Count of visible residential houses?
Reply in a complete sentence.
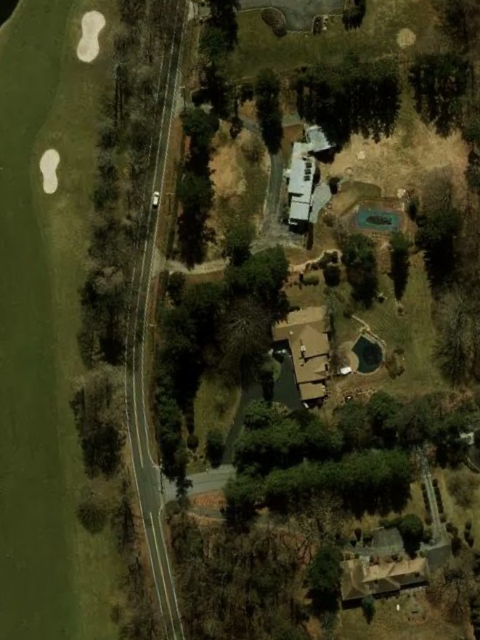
In total, there are 3 residential houses in the scene.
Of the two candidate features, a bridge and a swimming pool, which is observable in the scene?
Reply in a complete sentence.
It is a swimming pool that can be seen here.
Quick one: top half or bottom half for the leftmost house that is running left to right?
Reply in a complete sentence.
The leftmost house that is running left to right sits in the bottom half of the picture.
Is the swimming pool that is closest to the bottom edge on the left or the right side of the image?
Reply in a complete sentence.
It is on the right.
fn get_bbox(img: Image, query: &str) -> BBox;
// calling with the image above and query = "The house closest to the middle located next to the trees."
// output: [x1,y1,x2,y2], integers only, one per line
[275,307,331,400]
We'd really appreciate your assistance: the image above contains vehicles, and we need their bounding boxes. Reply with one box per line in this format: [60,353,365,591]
[273,348,286,355]
[301,400,311,412]
[153,192,159,205]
